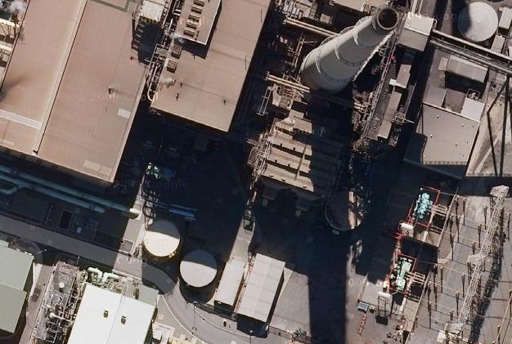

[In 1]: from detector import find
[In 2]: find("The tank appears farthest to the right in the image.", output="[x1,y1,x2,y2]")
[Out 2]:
[456,1,499,44]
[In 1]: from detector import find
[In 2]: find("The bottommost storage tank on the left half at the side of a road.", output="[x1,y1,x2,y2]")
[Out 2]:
[179,249,217,289]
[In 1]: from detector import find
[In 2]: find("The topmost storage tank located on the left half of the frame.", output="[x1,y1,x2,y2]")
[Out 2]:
[143,219,181,259]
